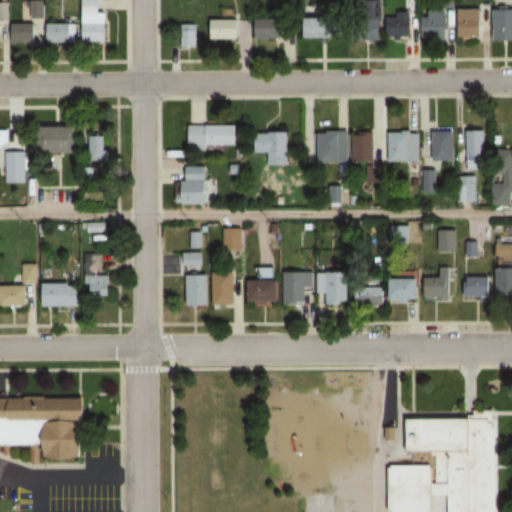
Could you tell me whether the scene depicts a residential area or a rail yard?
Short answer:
residential area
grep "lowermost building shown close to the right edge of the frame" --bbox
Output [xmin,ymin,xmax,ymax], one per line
[388,418,498,512]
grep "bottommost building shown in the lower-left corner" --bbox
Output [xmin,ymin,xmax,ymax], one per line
[0,396,80,463]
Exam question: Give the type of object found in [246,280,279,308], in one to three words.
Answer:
house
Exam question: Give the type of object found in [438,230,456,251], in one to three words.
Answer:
building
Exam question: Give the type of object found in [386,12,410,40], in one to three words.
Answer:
house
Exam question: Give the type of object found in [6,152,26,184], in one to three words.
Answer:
building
